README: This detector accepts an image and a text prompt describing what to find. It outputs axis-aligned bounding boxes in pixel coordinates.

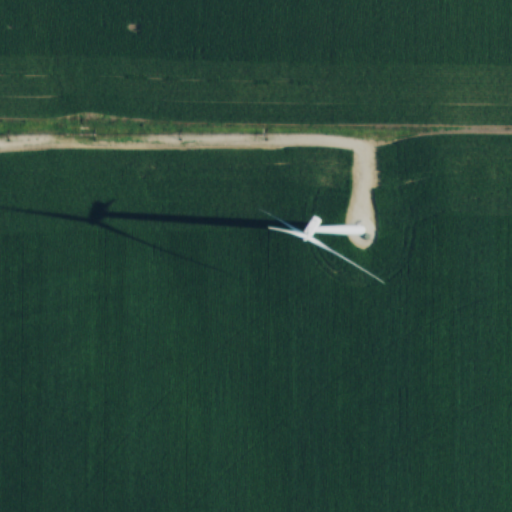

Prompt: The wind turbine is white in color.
[257,210,386,284]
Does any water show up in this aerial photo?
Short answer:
No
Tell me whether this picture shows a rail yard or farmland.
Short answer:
farmland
